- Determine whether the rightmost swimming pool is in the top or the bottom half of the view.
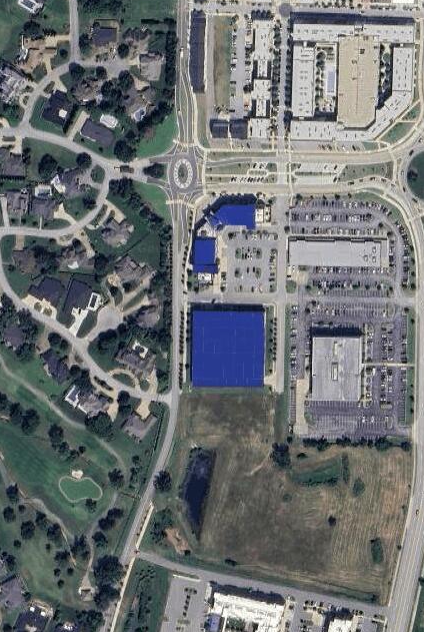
top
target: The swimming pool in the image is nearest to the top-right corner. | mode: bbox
[316,44,337,116]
